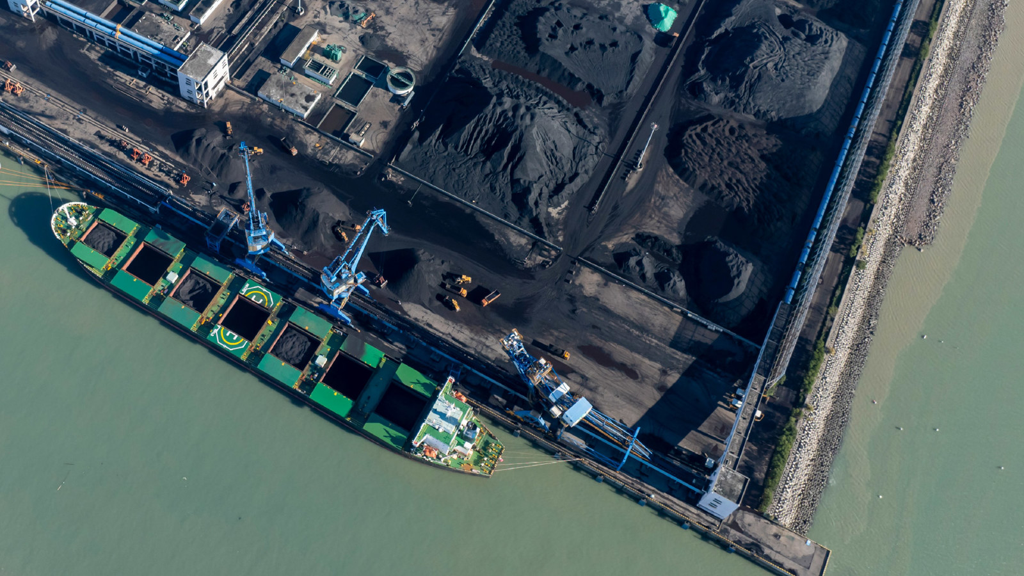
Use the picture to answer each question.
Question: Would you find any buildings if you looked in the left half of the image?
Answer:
Yes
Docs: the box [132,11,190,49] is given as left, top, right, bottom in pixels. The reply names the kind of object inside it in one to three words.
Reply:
building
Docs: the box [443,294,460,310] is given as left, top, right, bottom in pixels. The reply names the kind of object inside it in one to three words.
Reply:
work vehicle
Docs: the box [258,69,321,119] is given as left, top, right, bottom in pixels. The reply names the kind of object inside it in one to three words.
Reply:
building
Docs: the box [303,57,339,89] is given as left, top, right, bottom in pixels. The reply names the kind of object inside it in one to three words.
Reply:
house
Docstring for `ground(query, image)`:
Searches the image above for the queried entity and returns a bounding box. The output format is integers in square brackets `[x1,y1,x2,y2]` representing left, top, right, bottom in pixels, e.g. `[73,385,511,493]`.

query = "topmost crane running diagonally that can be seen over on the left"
[314,227,398,327]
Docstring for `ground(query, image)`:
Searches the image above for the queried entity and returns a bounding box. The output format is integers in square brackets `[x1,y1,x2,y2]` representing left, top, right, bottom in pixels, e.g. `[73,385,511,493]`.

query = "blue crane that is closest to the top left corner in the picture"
[230,151,291,281]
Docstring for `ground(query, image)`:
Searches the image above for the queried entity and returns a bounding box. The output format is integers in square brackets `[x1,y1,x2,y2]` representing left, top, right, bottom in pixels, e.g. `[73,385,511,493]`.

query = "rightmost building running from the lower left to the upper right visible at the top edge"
[280,25,318,72]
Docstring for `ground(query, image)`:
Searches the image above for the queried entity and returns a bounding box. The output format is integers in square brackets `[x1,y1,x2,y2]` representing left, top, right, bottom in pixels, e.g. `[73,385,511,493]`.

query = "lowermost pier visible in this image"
[718,508,830,576]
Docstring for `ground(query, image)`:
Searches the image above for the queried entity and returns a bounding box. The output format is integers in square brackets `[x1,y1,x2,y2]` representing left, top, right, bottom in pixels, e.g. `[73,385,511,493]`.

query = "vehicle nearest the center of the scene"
[481,288,500,305]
